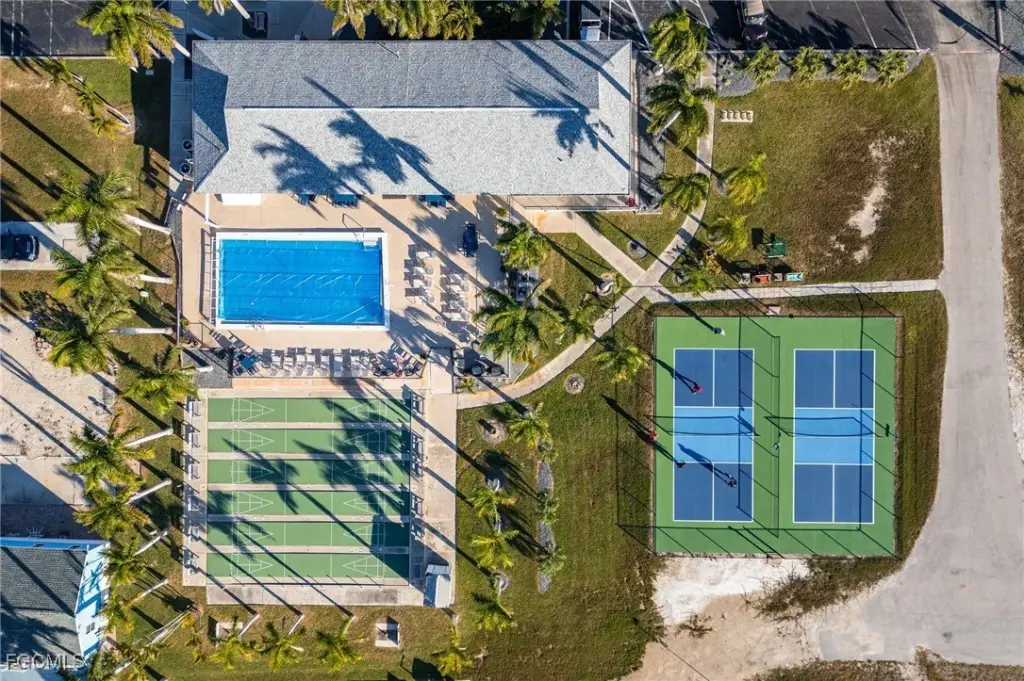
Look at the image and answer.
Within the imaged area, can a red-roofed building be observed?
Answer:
No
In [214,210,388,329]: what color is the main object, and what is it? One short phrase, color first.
blue swimming pool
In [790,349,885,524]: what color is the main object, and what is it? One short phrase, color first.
blue sports court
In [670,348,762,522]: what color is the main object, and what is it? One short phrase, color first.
blue sports court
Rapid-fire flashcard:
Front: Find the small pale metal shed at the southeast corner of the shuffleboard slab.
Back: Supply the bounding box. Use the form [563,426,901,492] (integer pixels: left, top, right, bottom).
[424,558,451,611]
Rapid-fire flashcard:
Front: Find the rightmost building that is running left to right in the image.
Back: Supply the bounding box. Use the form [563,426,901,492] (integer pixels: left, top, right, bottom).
[192,39,663,214]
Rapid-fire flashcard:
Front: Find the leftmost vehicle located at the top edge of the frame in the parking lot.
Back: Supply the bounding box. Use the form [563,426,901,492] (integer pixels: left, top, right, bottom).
[579,0,609,39]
